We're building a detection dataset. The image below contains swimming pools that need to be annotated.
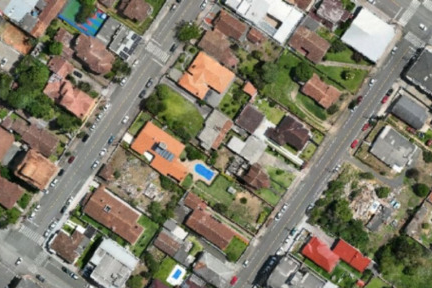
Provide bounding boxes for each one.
[194,163,214,181]
[171,268,183,280]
